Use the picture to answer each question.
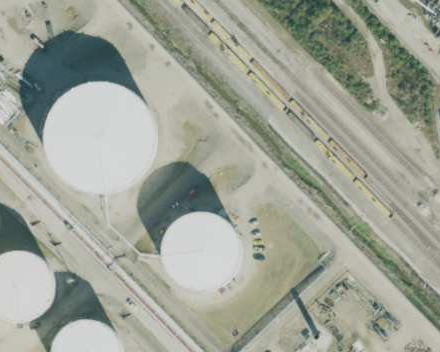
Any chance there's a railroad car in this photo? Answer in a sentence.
Yes, the image includes a railroad car.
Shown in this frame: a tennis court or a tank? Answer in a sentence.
This aerial view contains a tank.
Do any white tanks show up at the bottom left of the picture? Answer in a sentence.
Yes, a white tank can be seen at the bottom left of the picture.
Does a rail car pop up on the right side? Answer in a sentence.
Yes, a rail car is visible on the right side.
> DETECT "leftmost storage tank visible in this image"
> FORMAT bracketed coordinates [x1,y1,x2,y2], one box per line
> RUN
[0,250,58,326]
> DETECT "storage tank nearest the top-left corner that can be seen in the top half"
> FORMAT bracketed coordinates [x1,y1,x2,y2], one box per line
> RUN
[44,79,160,196]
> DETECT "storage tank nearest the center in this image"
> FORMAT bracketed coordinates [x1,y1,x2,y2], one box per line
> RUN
[160,211,242,294]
